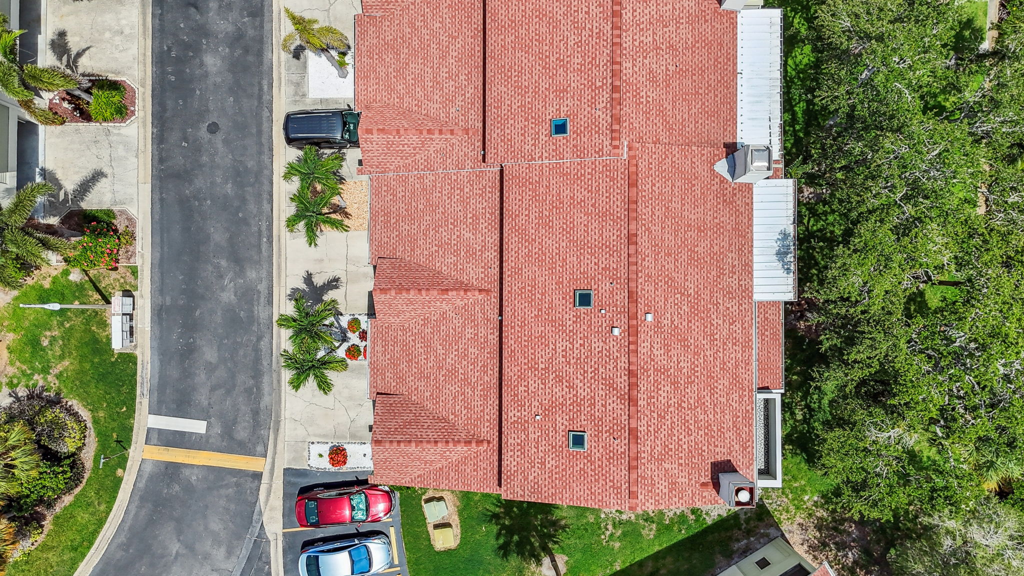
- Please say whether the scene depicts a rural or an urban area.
urban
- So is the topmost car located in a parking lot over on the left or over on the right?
left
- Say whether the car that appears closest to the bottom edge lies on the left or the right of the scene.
left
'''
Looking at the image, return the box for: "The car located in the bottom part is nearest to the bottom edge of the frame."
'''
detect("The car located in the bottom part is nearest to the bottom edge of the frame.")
[296,534,394,576]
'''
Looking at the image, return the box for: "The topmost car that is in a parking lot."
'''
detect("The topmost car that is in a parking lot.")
[295,483,395,533]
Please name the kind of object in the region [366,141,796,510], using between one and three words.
house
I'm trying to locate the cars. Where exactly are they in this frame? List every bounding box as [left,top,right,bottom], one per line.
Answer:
[282,108,361,151]
[295,483,395,533]
[296,534,394,576]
